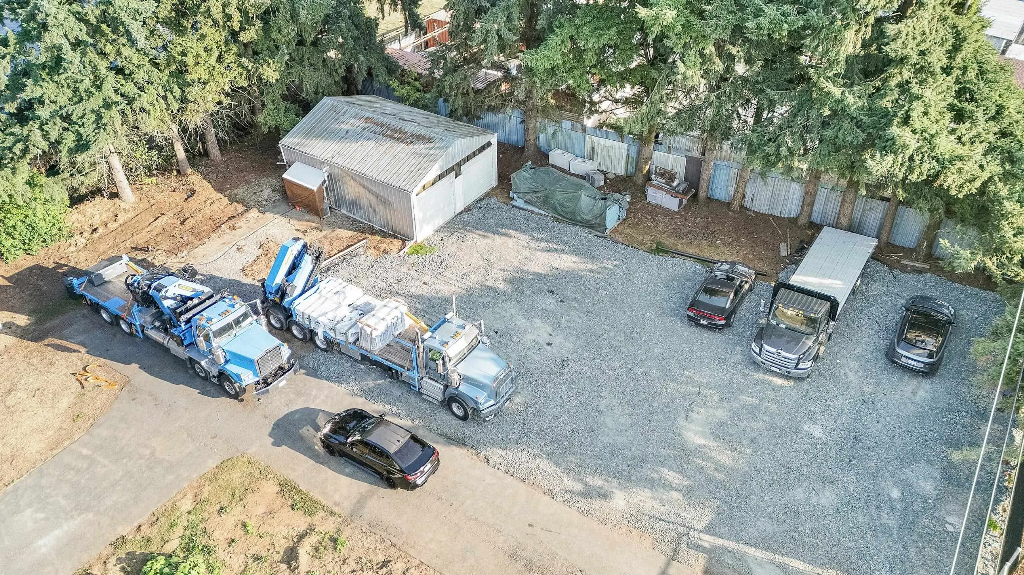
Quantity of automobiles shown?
three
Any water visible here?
No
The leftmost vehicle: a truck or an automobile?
truck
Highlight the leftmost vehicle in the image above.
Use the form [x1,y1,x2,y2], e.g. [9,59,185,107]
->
[67,244,301,400]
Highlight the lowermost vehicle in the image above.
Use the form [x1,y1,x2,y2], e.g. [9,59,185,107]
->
[320,409,445,491]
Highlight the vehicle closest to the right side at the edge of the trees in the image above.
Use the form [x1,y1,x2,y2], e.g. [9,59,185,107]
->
[884,298,956,381]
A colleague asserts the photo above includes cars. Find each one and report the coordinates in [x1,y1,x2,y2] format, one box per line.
[884,298,956,381]
[320,409,445,491]
[685,262,759,335]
